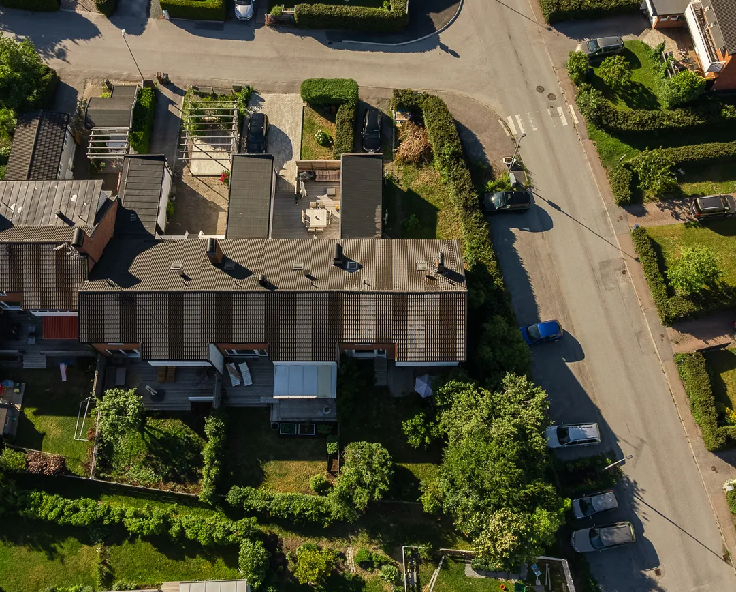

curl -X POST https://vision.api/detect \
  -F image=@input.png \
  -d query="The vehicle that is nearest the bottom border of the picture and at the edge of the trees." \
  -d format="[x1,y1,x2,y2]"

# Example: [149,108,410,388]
[571,521,639,556]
